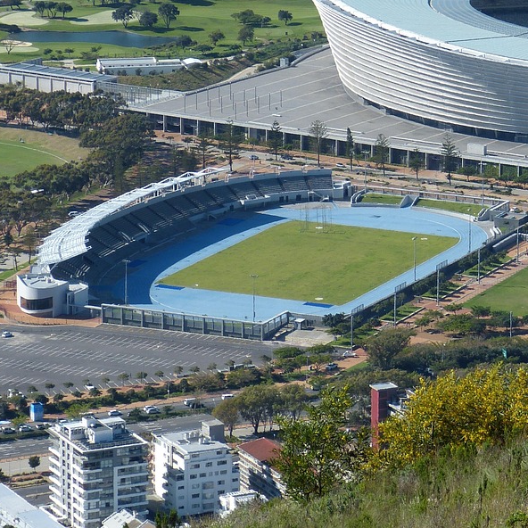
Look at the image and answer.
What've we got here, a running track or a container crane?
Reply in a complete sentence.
The one in the frame is a running track.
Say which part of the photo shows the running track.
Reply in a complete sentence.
Look in the center portion of the view to spot the running track.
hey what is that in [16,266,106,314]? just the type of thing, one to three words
building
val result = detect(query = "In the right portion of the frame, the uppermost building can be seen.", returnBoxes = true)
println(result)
[333,179,355,202]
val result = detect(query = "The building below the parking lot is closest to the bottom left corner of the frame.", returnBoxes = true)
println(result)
[0,482,56,528]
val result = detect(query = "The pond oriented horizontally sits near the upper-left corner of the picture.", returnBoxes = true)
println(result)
[11,31,174,46]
